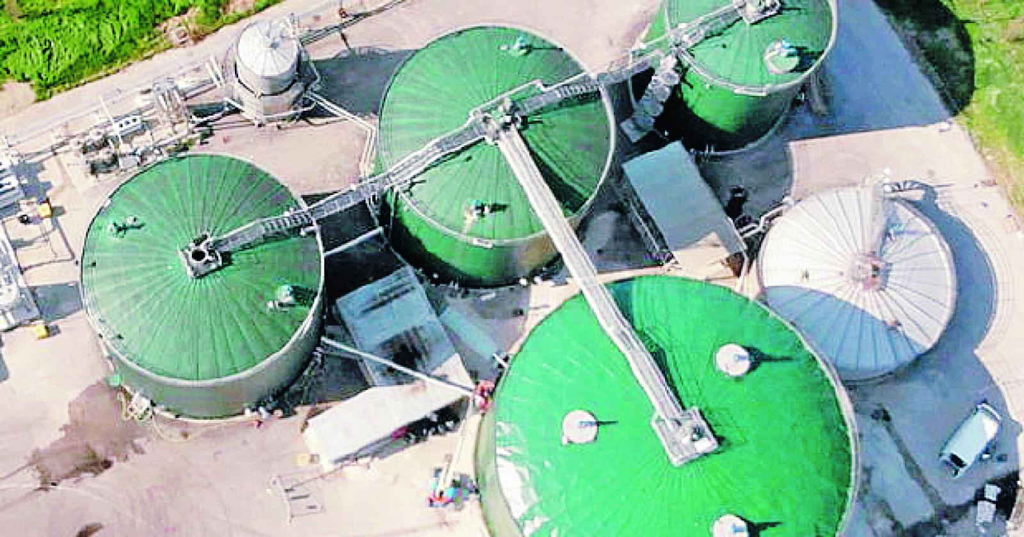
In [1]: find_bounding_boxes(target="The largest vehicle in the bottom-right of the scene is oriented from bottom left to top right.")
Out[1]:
[938,403,1005,483]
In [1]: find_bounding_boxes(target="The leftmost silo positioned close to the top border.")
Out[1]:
[228,6,314,132]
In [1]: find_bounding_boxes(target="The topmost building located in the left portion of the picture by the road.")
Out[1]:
[0,142,35,223]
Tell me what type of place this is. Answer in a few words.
industrial area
